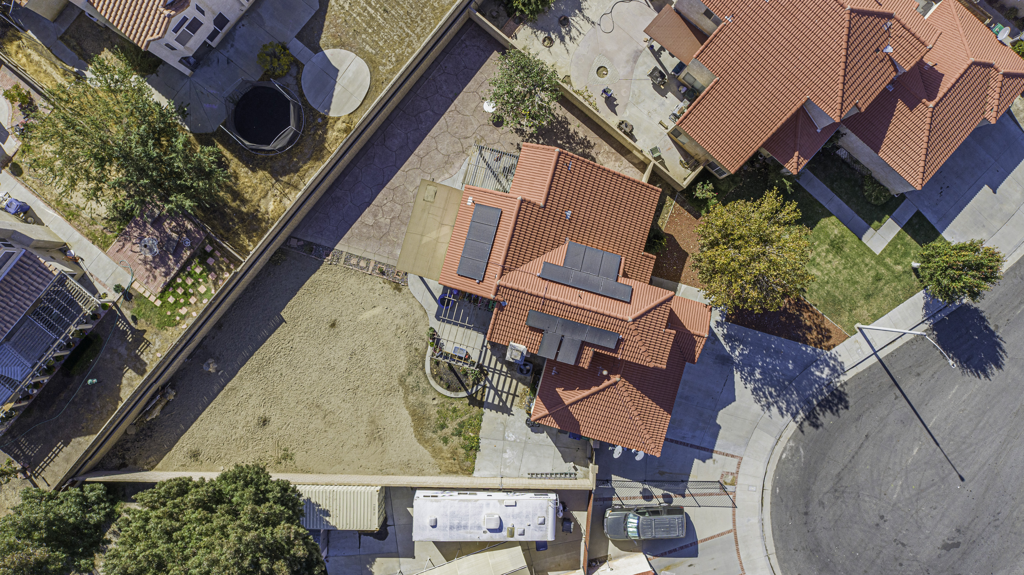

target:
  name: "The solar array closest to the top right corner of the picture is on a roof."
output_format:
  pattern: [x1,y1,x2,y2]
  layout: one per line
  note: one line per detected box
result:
[541,241,633,301]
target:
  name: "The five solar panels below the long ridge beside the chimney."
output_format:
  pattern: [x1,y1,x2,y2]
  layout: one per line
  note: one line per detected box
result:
[526,311,619,366]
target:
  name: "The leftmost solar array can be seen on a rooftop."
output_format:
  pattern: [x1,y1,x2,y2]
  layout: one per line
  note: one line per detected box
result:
[455,203,500,280]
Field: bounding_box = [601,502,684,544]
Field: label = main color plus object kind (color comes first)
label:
gray car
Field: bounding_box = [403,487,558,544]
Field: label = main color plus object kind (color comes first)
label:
white vehicle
